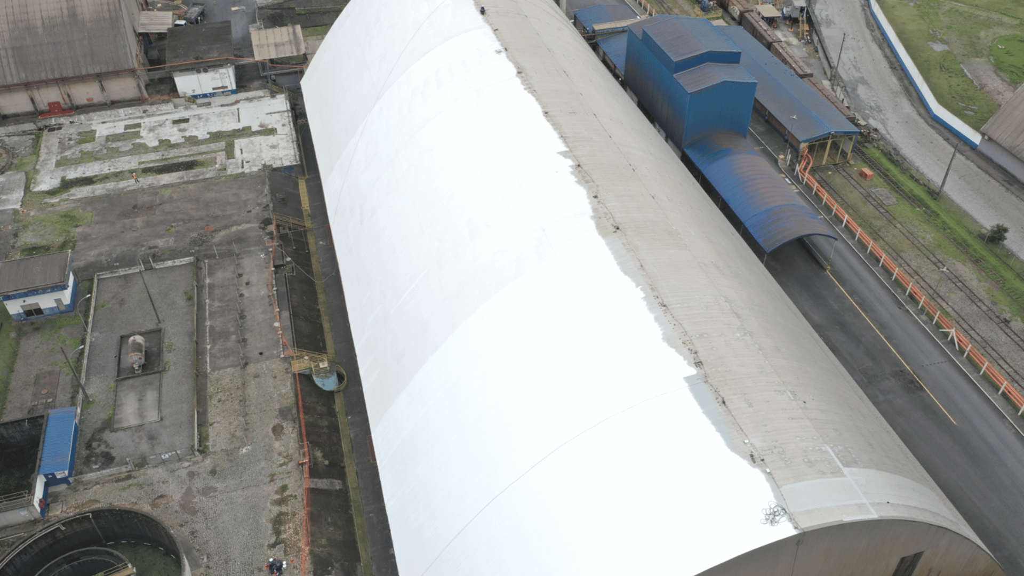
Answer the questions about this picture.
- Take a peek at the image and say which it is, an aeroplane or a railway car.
railway car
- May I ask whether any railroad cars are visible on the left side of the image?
No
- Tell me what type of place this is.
industrial area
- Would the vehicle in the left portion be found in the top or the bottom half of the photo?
top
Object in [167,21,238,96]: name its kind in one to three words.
building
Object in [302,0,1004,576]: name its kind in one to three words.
warehouse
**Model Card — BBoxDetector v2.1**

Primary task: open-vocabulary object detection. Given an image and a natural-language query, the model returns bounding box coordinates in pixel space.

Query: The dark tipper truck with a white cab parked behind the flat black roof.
[180,6,206,26]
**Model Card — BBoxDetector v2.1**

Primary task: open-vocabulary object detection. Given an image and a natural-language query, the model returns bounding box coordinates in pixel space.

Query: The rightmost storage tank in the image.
[309,361,339,399]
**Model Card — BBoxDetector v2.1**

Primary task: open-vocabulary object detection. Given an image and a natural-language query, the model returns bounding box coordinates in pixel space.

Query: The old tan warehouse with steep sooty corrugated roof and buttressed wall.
[0,0,145,120]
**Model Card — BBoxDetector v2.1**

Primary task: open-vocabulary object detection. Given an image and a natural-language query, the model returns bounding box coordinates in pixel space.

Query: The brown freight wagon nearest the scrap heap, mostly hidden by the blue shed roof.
[802,78,853,123]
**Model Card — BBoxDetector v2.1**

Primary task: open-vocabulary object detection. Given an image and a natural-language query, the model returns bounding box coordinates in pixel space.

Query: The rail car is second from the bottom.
[772,44,814,79]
